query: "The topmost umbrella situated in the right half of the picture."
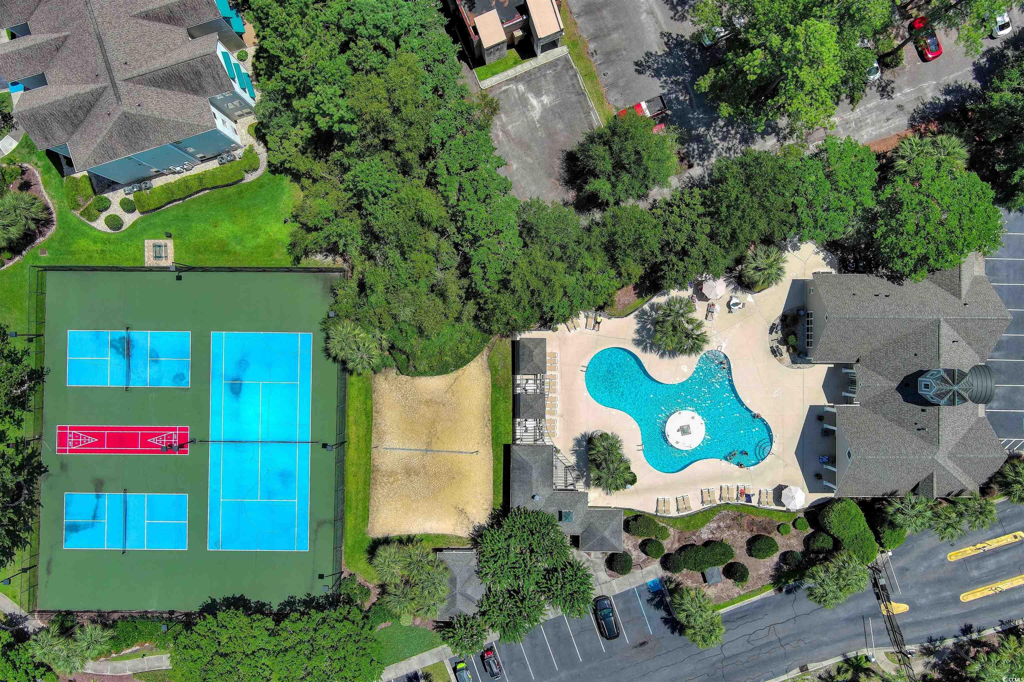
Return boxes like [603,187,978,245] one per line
[702,277,725,299]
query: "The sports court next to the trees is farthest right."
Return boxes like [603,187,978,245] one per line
[367,339,496,539]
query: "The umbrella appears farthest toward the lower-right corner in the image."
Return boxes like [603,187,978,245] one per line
[781,486,805,509]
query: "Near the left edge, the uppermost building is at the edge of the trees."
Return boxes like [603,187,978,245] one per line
[0,0,256,183]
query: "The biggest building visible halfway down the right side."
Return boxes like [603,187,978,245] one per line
[805,247,1013,504]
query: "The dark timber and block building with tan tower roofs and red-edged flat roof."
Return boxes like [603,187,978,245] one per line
[453,0,563,64]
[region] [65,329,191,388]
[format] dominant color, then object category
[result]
blue sports court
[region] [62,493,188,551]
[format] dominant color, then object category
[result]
blue sports court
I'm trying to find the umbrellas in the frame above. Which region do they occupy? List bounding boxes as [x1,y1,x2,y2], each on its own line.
[702,277,725,299]
[781,486,805,509]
